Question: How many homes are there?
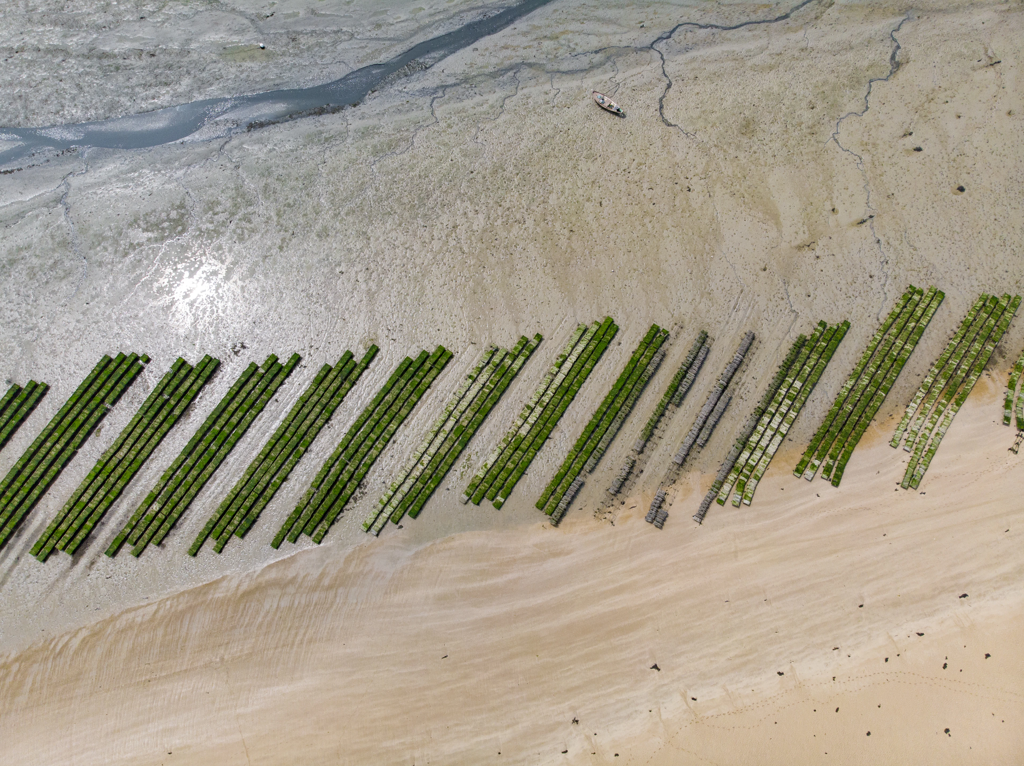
none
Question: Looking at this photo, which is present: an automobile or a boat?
boat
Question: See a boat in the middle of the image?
No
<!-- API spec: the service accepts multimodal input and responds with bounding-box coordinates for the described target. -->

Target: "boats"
[591,88,624,114]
